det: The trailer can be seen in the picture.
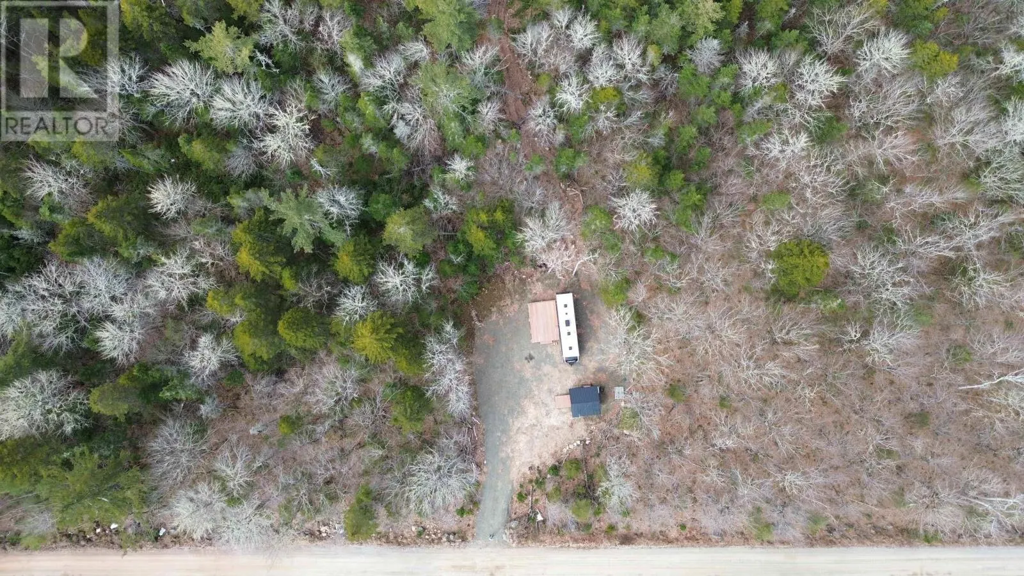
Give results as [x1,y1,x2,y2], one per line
[555,290,579,369]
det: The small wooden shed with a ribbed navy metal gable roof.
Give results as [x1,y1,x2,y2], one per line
[569,386,601,417]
